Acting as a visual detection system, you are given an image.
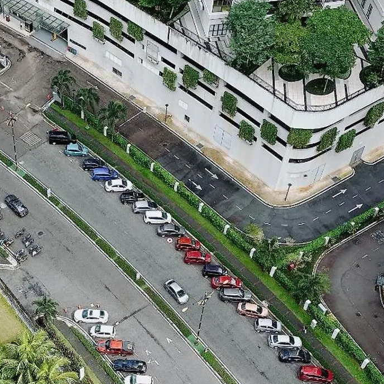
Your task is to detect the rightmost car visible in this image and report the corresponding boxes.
[298,366,333,384]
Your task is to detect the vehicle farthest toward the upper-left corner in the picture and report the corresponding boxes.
[48,133,76,145]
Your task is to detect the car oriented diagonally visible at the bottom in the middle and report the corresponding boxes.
[162,279,191,304]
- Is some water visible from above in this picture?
No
